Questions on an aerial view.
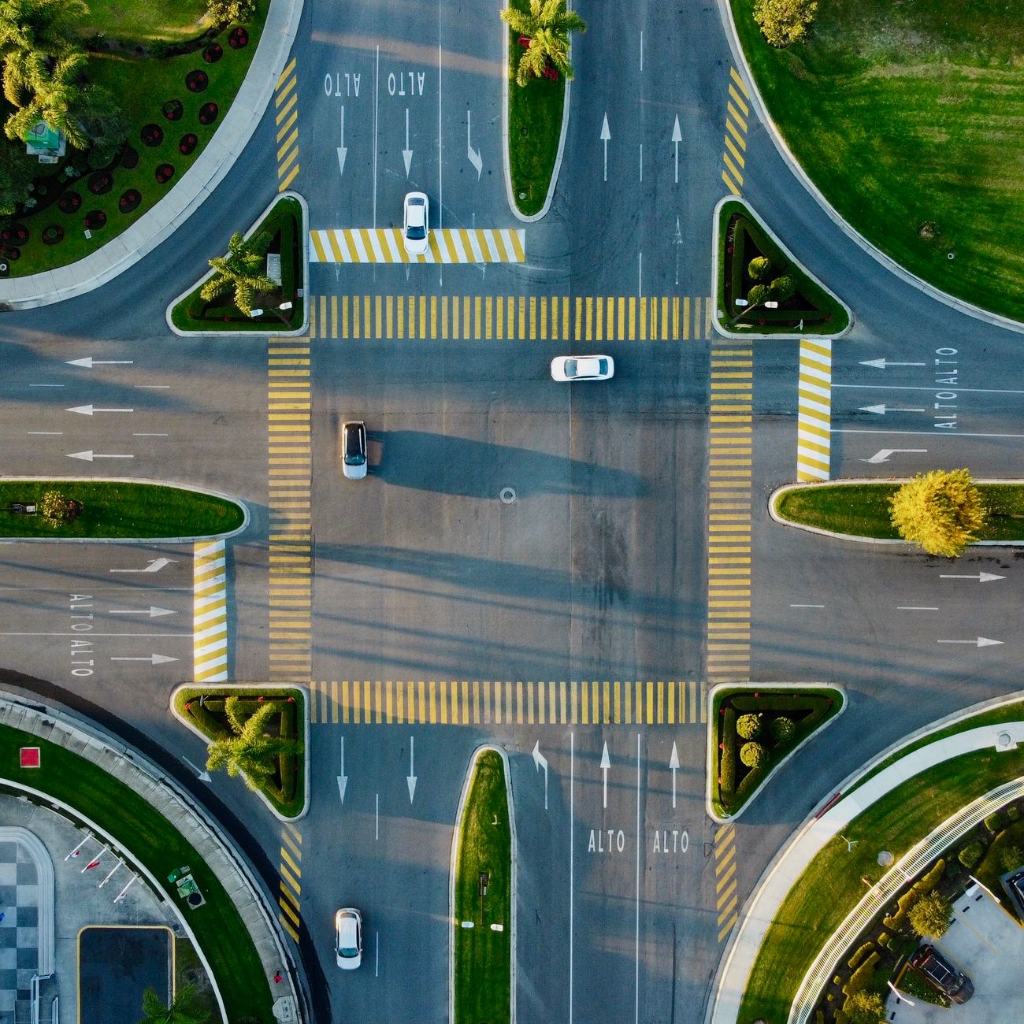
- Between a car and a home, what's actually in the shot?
car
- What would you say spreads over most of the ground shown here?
paved ground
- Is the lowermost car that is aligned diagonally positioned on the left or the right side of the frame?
right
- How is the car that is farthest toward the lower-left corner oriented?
up and down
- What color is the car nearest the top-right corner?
white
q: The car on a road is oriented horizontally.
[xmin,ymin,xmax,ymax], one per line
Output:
[551,354,613,383]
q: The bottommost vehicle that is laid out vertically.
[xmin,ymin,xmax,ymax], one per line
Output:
[334,905,362,966]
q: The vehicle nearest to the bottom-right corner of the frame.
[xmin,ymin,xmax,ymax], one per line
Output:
[910,939,968,1003]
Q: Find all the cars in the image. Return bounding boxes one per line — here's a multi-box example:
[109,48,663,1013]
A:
[334,905,362,966]
[551,354,613,383]
[910,939,968,1003]
[402,192,430,256]
[341,422,368,478]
